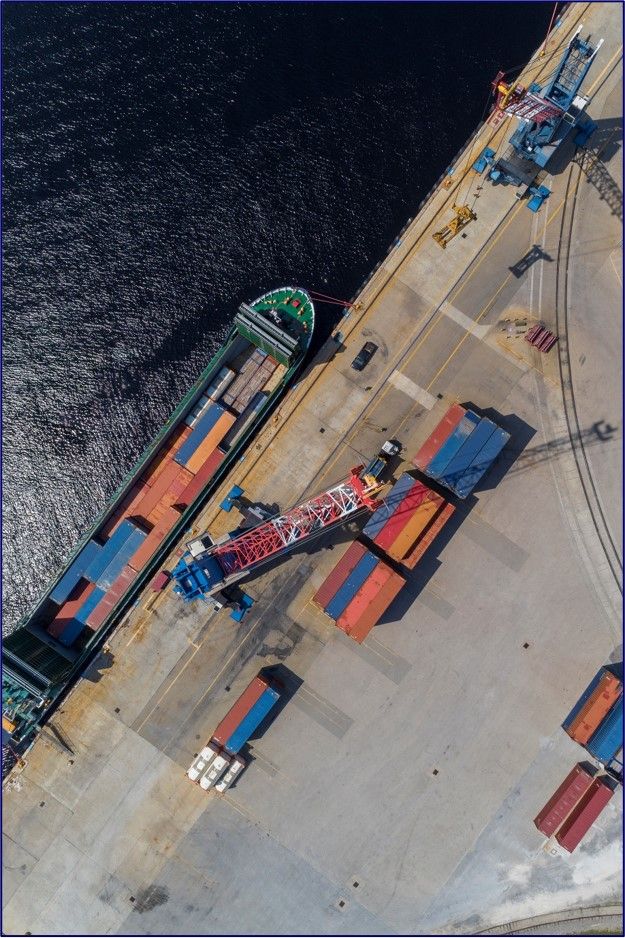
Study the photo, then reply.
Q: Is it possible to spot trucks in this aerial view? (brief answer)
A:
Yes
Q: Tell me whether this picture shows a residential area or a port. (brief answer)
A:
port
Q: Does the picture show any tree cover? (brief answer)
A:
No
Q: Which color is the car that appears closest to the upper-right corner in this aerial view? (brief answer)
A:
black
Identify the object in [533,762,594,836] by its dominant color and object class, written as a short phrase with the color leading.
red shipping container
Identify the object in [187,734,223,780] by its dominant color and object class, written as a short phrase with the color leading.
white truck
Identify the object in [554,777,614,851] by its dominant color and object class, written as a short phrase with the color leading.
red shipping container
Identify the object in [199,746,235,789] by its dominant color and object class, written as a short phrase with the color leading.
white truck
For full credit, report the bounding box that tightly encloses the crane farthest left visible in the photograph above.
[171,464,390,618]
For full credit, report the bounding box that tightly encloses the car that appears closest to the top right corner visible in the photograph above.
[352,343,376,371]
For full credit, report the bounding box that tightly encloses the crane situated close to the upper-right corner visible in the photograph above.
[472,14,616,211]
